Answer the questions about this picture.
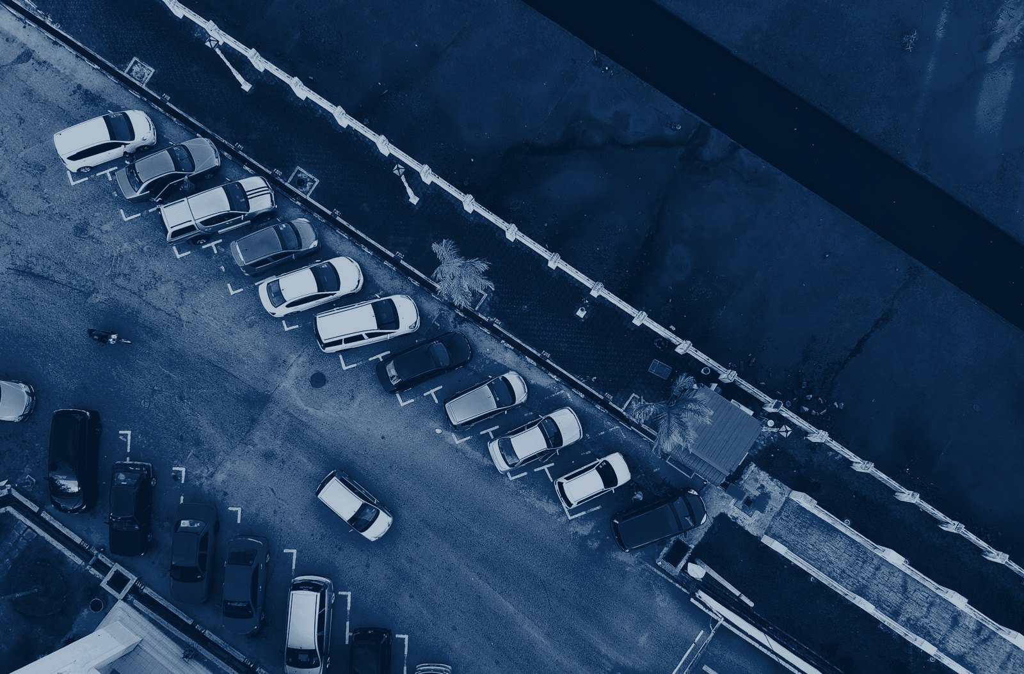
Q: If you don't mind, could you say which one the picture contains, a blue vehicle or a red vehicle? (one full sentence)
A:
Looking from above, you can make out a blue vehicle.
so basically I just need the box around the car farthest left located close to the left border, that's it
[0,380,38,421]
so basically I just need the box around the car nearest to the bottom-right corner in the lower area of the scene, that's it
[610,490,708,554]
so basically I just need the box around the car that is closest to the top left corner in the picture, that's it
[50,111,159,177]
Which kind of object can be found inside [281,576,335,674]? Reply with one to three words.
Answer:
car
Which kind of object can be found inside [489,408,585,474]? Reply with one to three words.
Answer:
car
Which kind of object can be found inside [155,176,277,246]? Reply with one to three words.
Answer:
truck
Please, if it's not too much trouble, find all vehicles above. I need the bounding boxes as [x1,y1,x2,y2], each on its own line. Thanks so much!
[489,408,585,474]
[258,260,365,321]
[79,327,133,346]
[281,576,335,674]
[214,536,271,633]
[610,490,708,554]
[319,470,392,538]
[50,111,159,177]
[101,464,158,554]
[162,504,220,603]
[230,218,320,277]
[115,139,222,203]
[155,176,277,246]
[0,380,38,421]
[348,627,393,674]
[313,295,421,356]
[43,412,106,513]
[556,455,631,510]
[377,334,473,393]
[445,373,529,432]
